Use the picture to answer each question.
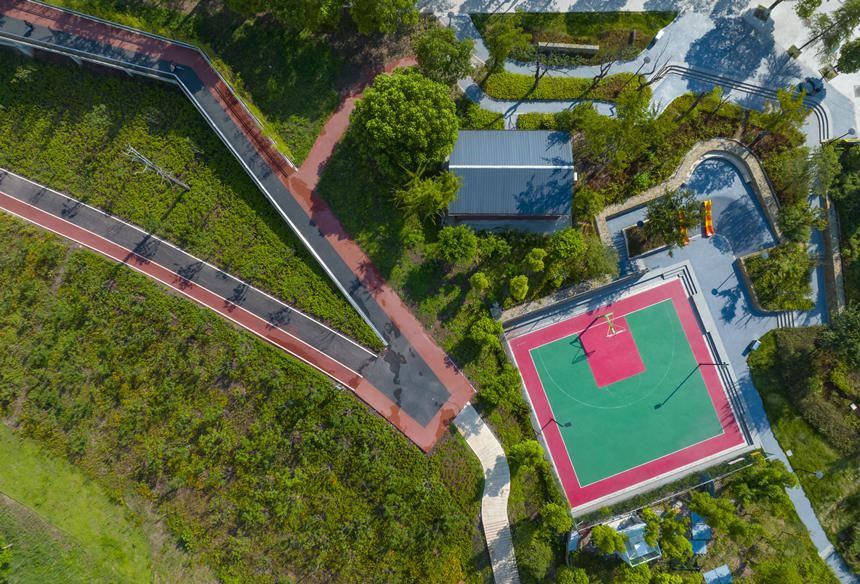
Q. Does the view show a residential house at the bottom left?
No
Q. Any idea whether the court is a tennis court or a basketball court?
basketball court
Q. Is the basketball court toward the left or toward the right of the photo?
right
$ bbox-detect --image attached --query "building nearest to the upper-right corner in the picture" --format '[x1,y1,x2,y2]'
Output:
[448,129,576,219]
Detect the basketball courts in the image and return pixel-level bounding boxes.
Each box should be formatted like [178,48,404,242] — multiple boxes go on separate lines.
[508,278,747,514]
